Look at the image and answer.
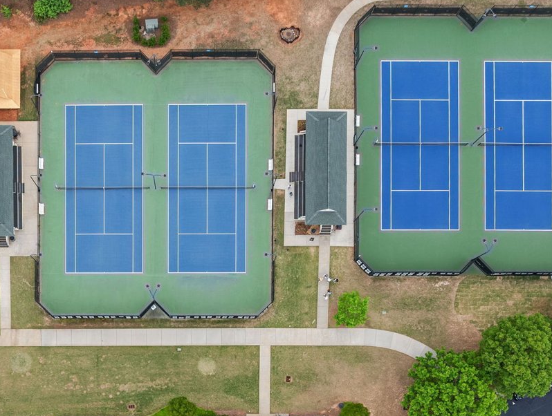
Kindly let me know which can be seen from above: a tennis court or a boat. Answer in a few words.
tennis court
